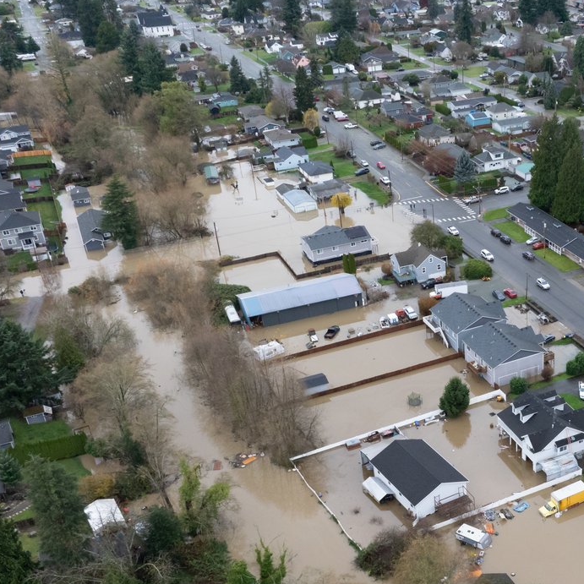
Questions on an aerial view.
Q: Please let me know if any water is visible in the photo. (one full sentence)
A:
Yes, water can be seen from above here.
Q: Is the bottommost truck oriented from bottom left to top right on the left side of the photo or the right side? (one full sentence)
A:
It is on the right.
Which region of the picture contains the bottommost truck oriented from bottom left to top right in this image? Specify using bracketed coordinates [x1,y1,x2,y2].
[538,476,584,519]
